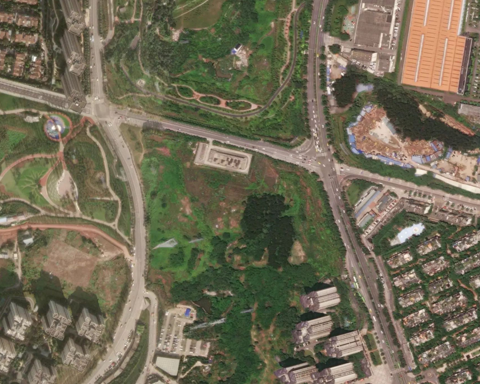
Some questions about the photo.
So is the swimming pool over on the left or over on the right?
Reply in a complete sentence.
The swimming pool sits on the right side.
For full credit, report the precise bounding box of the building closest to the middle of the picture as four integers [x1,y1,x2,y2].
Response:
[194,142,252,174]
